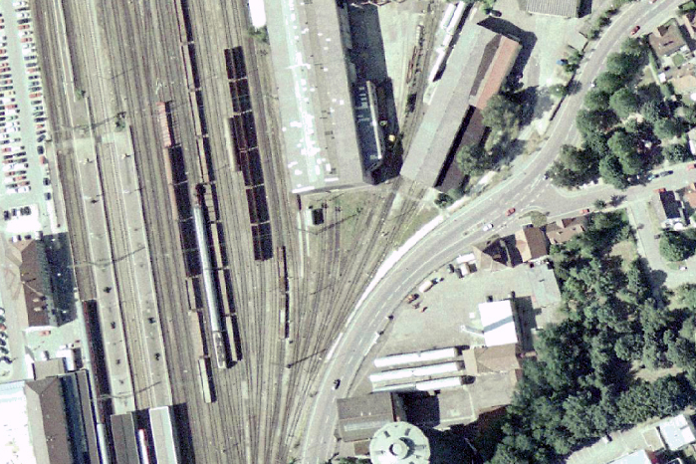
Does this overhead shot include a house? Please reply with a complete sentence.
Yes, the picture does show a house.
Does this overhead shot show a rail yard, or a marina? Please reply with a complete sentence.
It's a rail yard.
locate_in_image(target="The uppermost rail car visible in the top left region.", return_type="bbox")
[175,0,191,43]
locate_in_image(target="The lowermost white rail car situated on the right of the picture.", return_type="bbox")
[428,51,446,81]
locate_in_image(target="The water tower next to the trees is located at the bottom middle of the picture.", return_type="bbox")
[370,419,460,464]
